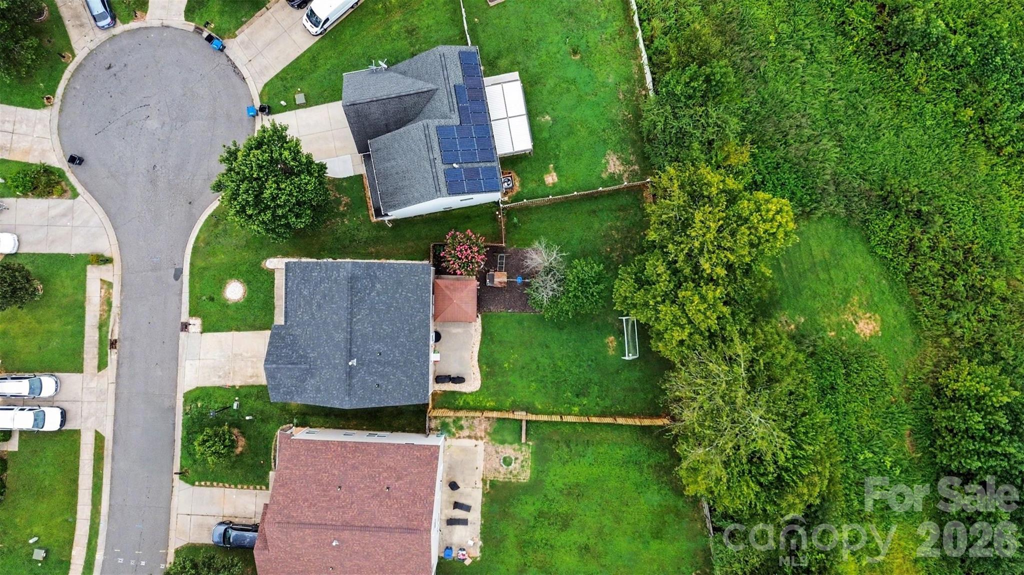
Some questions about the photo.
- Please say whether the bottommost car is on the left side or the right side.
left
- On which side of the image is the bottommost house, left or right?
left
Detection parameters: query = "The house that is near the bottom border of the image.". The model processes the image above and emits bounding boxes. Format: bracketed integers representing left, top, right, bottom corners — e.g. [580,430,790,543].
[254,423,443,575]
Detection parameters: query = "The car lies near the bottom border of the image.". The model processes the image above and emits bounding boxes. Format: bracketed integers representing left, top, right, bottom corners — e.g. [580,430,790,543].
[211,523,259,551]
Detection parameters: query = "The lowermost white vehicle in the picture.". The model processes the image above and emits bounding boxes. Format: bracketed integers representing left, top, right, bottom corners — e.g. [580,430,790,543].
[0,406,68,432]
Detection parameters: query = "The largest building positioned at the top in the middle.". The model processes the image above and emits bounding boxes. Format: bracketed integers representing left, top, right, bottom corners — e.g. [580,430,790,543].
[342,46,506,222]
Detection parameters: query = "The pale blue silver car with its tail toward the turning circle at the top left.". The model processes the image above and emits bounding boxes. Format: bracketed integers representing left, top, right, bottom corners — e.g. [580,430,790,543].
[88,0,119,30]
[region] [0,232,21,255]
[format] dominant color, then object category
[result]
white car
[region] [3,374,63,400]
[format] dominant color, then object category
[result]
white car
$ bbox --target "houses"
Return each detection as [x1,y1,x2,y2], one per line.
[264,261,433,409]
[342,46,506,222]
[254,423,443,575]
